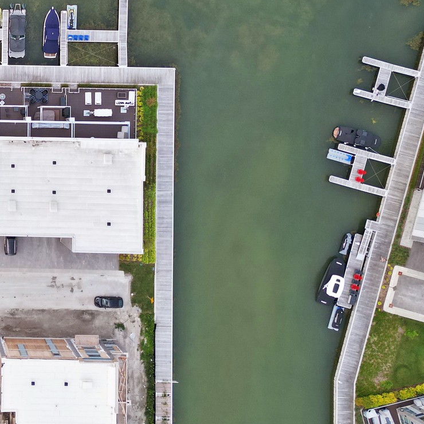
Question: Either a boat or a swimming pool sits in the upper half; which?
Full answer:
The feature located in the upper half is a boat.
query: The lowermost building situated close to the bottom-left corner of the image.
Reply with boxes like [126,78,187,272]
[0,335,132,424]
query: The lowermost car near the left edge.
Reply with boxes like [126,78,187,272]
[3,237,18,257]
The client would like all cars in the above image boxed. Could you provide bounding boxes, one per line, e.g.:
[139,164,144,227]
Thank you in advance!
[3,237,18,257]
[93,295,123,310]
